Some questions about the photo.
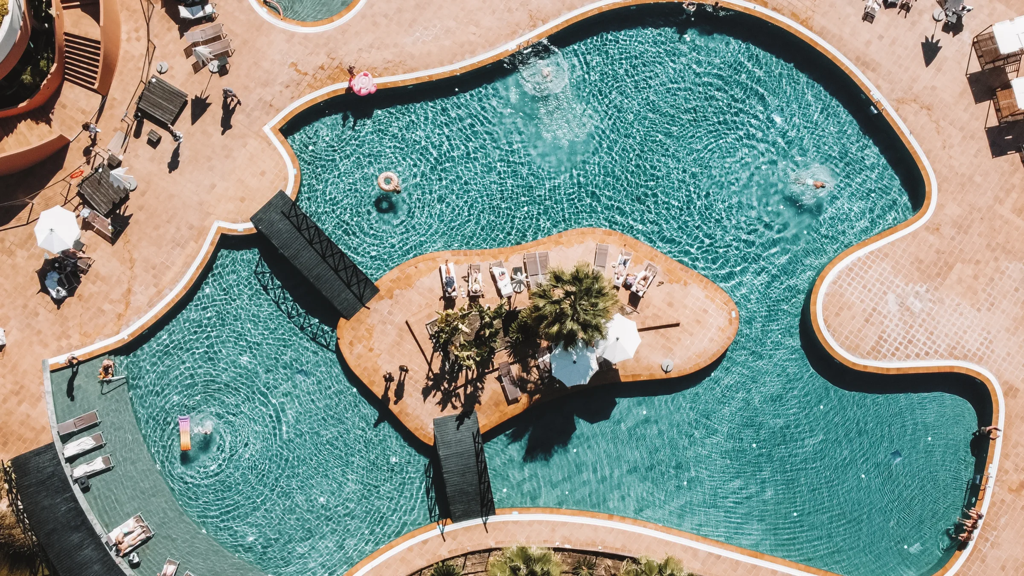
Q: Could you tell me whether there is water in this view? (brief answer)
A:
Yes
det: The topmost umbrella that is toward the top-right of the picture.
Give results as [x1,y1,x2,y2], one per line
[933,0,963,21]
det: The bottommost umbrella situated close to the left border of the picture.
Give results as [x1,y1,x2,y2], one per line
[34,208,85,257]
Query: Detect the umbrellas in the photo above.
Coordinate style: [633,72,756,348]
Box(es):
[593,314,641,363]
[549,342,599,387]
[109,168,139,190]
[505,273,530,299]
[193,45,221,72]
[34,208,85,257]
[933,0,963,21]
